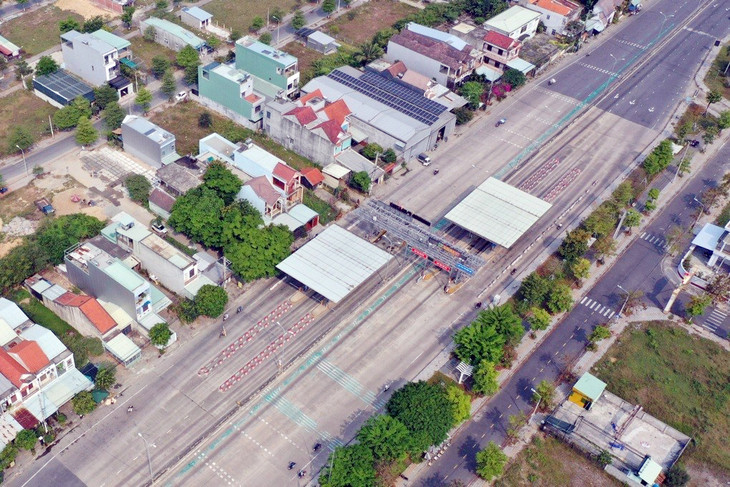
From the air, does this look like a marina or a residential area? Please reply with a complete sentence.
This looks like a residential area.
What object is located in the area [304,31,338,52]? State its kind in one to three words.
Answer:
shed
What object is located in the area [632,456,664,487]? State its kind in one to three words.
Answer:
shed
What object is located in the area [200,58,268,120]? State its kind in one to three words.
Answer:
house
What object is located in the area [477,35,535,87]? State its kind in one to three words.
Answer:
house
